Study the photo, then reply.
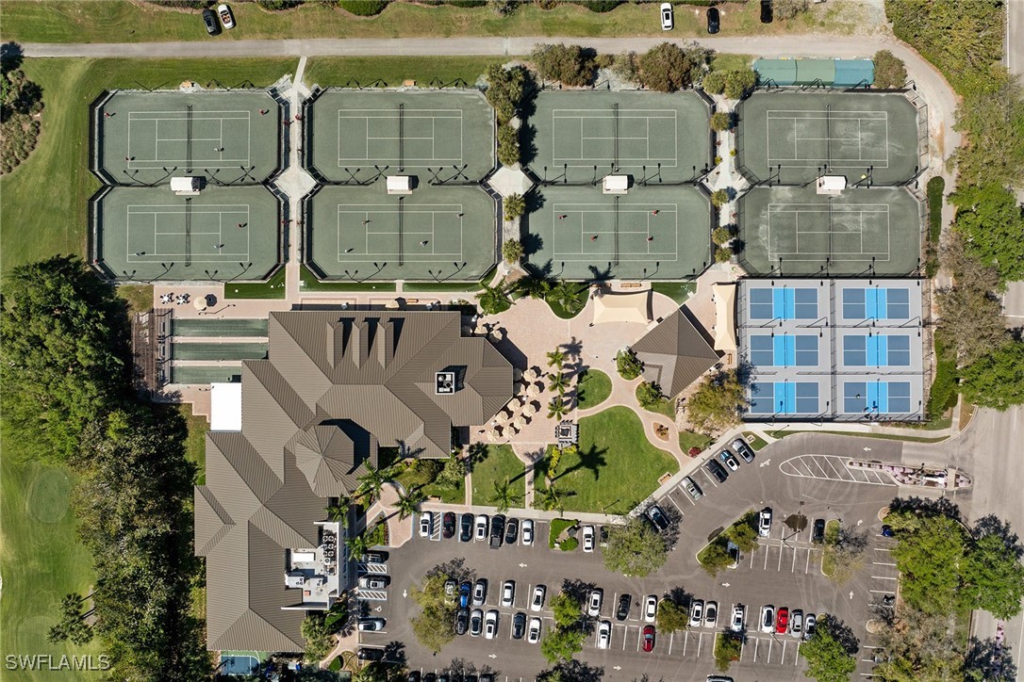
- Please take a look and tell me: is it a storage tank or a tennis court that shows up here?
tennis court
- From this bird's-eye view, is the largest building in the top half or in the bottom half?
bottom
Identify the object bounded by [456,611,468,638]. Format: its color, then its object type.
gray vehicle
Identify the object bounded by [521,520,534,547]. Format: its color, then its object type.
white vehicle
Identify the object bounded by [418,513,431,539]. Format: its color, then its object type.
white vehicle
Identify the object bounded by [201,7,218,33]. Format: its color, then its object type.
black car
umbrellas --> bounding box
[494,410,509,425]
[513,382,526,396]
[507,398,521,412]
[474,324,487,336]
[193,296,207,310]
[502,424,516,438]
[462,324,474,336]
[387,298,400,311]
[524,367,538,381]
[527,384,539,397]
[489,329,502,342]
[513,368,524,382]
[487,429,500,442]
[513,416,527,430]
[522,403,536,416]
